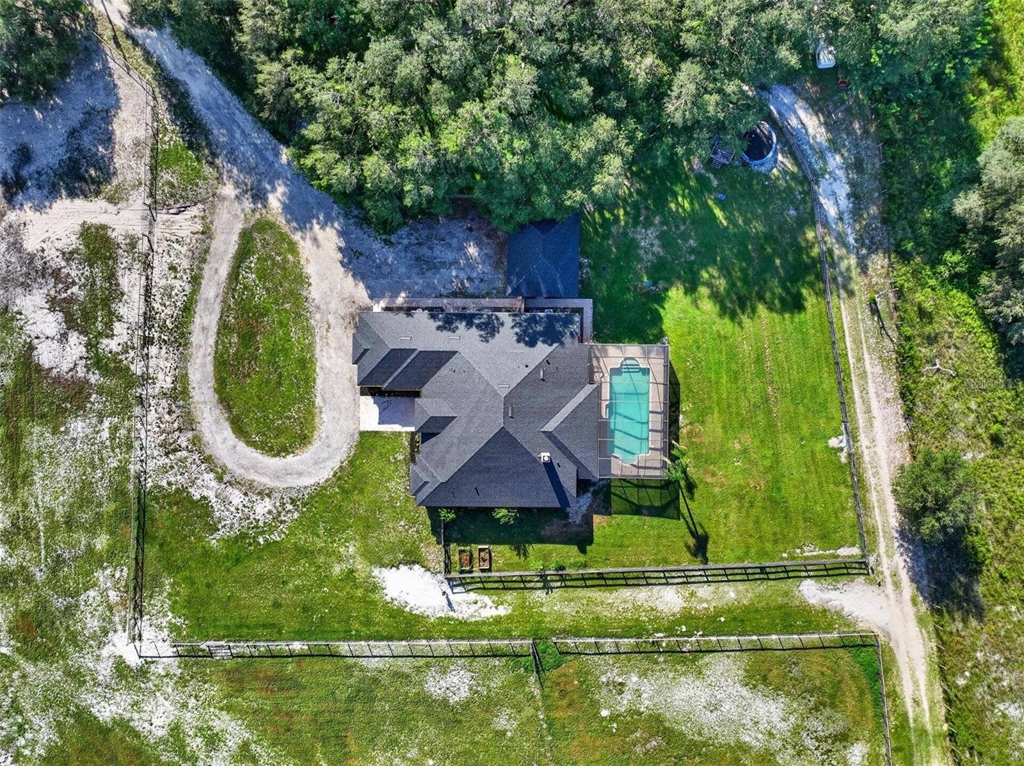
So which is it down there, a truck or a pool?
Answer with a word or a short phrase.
pool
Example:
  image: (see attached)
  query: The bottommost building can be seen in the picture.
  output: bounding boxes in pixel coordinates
[352,312,598,507]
